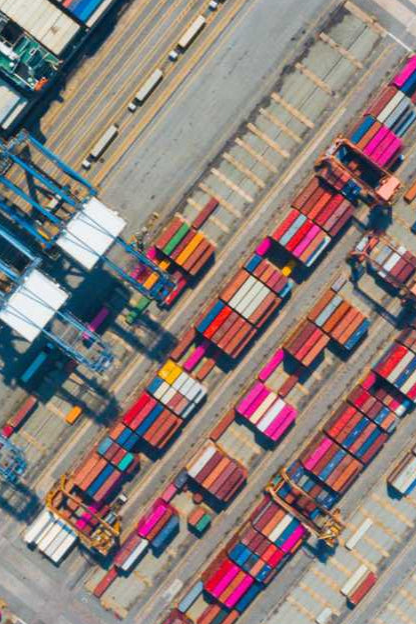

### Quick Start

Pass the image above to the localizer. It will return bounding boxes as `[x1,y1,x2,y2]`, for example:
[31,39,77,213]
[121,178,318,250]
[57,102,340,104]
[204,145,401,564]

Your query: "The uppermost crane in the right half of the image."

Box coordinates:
[304,136,400,218]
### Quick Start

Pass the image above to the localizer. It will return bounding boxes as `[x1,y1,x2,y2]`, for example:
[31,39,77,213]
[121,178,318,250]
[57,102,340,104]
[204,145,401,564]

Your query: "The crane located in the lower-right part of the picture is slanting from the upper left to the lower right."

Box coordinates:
[258,461,352,545]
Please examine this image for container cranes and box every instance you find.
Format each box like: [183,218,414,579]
[0,130,180,308]
[0,223,124,379]
[304,136,400,218]
[258,461,352,545]
[38,472,121,556]
[338,228,416,307]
